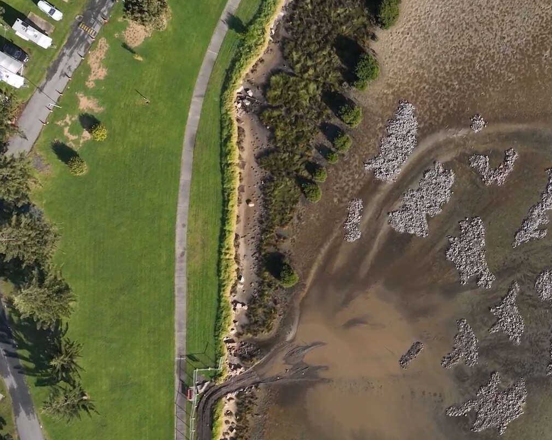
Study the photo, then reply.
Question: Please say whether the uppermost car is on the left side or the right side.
left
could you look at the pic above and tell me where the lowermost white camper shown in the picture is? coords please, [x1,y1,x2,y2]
[0,51,34,90]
